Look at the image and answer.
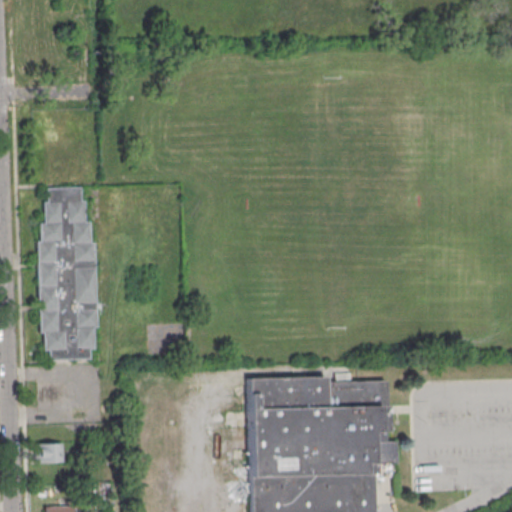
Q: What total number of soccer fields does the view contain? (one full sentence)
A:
The picture shows 1 soccer field.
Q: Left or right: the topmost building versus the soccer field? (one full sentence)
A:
The soccer field has the topmost building on its left side.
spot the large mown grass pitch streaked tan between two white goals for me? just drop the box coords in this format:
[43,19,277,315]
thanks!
[249,78,415,328]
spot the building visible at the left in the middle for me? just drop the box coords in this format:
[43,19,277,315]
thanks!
[38,186,102,361]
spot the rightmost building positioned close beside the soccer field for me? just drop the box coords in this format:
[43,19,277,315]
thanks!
[244,378,398,512]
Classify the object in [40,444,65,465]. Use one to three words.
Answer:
house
